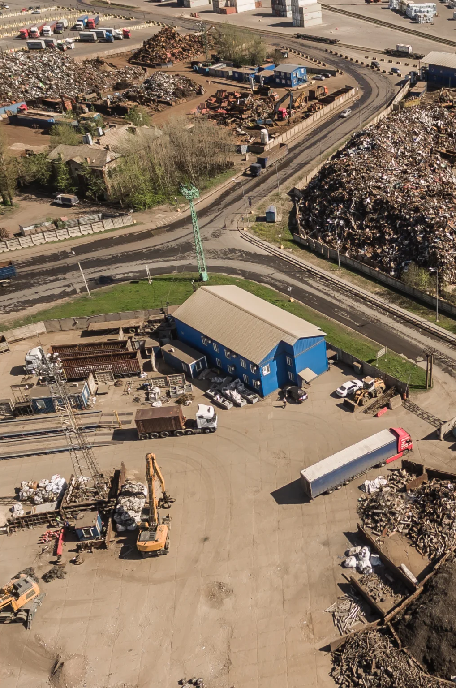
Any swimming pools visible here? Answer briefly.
No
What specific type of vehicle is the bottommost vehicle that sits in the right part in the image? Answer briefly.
truck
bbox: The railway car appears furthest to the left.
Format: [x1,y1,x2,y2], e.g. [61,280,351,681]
[291,31,341,44]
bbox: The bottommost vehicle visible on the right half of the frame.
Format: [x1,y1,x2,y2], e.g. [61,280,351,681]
[301,427,419,494]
